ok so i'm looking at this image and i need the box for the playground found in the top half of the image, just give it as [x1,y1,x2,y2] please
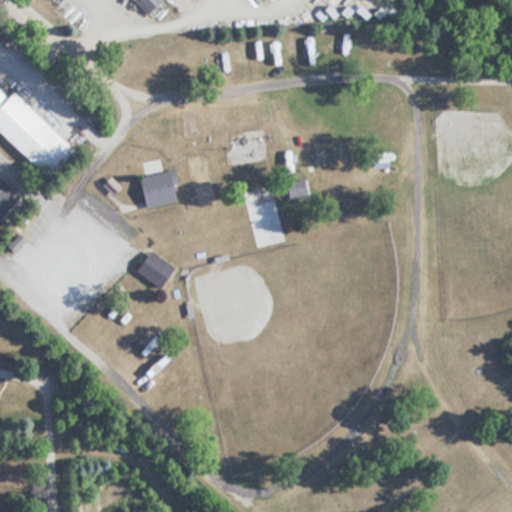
[228,131,266,166]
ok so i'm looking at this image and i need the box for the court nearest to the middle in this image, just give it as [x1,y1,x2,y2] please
[247,188,285,248]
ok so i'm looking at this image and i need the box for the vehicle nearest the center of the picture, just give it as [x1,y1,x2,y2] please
[284,147,298,173]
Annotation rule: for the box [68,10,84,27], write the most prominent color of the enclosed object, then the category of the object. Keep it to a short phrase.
white vehicle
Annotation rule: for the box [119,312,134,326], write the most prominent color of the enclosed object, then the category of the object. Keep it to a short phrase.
white vehicle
